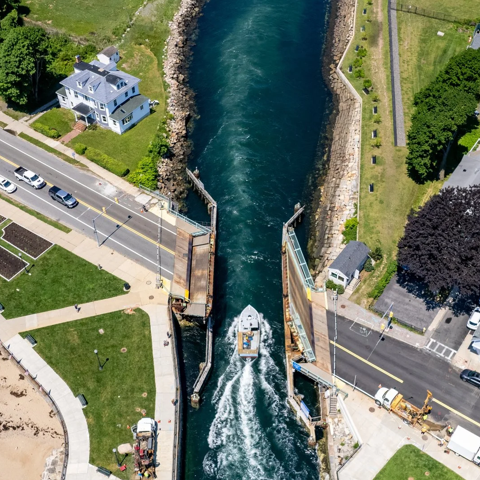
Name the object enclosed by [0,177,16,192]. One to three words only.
car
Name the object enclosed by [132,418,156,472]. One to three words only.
truck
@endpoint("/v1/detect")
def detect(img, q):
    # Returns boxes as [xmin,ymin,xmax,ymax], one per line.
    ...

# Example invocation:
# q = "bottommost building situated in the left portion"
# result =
[56,58,149,134]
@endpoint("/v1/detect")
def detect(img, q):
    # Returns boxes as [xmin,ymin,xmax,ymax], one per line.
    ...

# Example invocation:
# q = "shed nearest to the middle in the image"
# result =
[327,242,372,301]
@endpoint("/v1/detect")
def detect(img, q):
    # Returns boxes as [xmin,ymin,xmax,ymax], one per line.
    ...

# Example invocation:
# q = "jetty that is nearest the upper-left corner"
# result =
[184,165,219,232]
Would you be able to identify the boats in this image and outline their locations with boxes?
[237,303,260,358]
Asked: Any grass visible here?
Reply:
Yes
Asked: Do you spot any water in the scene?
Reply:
Yes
